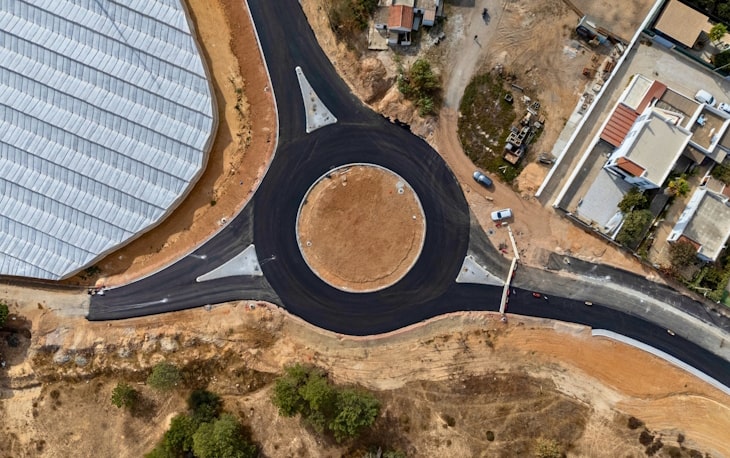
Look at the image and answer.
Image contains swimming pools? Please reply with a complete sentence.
No, the photo shows no swimming pool.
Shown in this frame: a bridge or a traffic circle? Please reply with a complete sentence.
I can see a traffic circle in this picture.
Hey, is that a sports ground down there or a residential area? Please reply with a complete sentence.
It's a residential area.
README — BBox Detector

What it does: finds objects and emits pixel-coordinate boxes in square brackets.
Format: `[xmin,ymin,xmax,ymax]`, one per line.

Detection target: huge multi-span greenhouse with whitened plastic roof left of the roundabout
[0,0,217,280]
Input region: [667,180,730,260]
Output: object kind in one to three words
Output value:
house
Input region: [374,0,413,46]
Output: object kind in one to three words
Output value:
house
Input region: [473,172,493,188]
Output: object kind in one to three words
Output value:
car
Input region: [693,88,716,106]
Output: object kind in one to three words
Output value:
vehicle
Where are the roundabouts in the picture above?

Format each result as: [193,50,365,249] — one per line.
[253,121,469,337]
